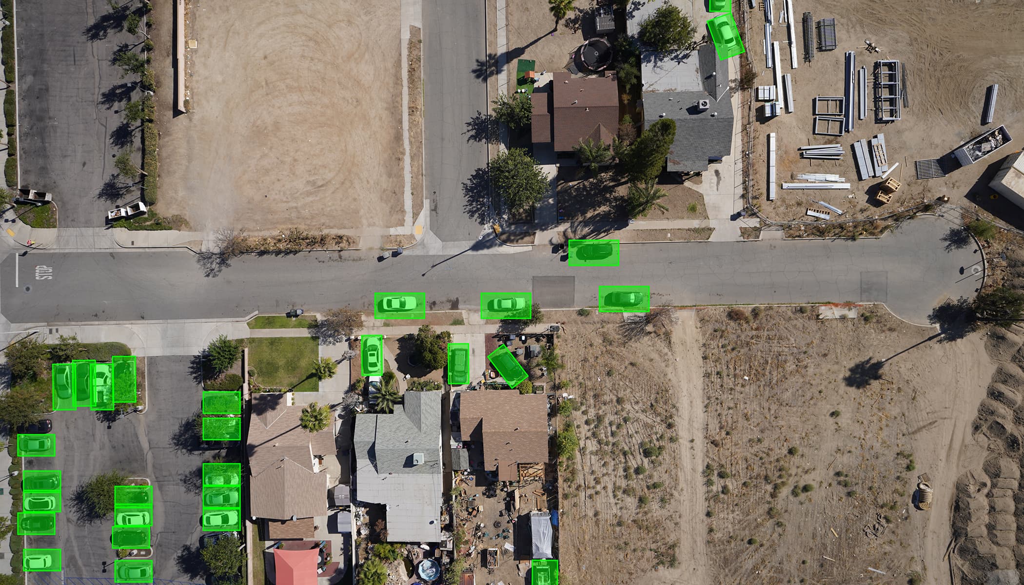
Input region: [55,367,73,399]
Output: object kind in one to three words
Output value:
car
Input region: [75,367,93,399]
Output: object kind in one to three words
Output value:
car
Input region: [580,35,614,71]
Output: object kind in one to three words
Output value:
trampoline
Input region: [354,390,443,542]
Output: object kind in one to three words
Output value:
house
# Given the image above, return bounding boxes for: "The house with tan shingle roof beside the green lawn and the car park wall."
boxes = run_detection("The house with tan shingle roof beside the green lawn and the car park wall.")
[247,391,340,523]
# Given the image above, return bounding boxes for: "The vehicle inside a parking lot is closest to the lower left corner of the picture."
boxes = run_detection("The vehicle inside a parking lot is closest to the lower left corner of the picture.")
[24,554,55,570]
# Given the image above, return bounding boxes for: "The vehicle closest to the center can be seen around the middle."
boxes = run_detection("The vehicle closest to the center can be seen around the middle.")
[493,296,526,310]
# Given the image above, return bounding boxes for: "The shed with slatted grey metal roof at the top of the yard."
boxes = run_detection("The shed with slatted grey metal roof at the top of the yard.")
[594,5,615,36]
